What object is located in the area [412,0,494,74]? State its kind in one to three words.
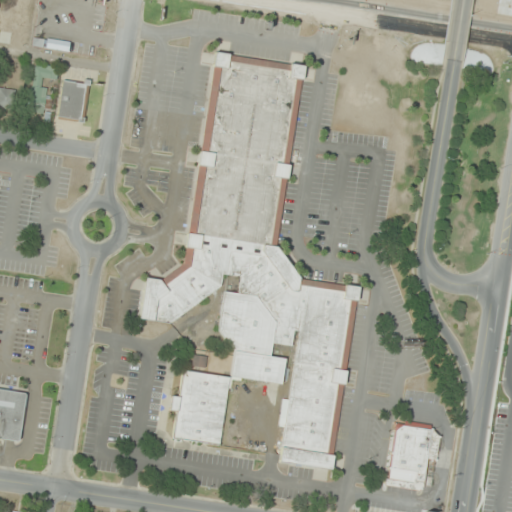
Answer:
overpass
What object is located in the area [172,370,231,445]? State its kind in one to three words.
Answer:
building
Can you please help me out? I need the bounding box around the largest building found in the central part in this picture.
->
[142,52,362,470]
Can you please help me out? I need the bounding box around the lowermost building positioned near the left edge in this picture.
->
[0,388,30,441]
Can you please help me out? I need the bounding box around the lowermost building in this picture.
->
[386,422,442,490]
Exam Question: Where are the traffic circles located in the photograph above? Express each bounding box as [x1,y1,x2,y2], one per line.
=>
[68,198,126,254]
